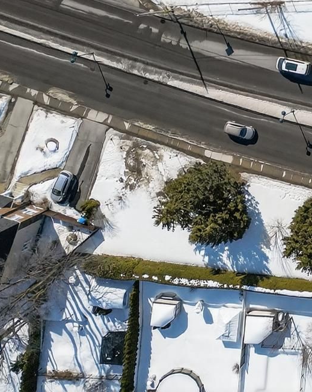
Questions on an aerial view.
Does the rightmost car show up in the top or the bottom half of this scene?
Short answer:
top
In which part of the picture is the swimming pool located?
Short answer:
bottom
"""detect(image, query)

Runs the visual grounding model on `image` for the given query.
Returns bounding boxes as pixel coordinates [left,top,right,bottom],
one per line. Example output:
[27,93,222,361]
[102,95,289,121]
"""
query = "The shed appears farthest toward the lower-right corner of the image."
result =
[239,353,295,392]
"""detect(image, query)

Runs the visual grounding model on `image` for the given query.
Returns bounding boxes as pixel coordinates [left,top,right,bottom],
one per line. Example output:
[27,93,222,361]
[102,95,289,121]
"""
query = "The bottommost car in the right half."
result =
[225,122,256,140]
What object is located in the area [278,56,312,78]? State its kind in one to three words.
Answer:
car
